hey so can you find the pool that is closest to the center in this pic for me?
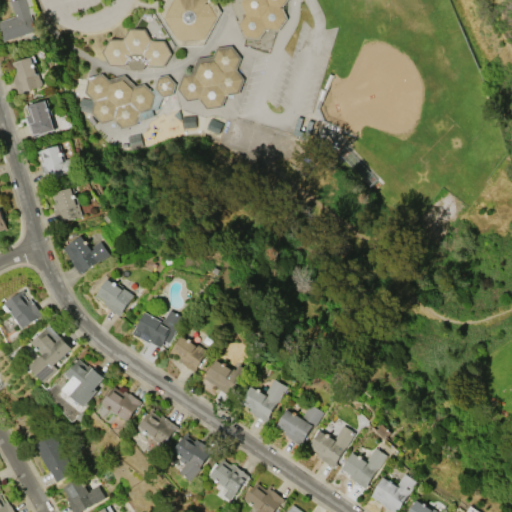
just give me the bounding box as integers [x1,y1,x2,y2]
[163,278,192,312]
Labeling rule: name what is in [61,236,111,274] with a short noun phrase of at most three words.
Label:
house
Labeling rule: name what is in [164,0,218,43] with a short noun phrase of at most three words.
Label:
building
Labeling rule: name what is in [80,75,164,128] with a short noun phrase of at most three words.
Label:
building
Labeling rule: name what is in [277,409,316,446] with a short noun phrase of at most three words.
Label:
house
